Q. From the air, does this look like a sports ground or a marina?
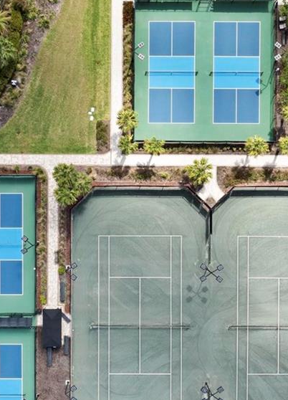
sports ground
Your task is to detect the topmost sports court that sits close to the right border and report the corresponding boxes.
[205,0,276,141]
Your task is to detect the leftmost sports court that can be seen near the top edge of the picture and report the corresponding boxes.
[134,0,205,141]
